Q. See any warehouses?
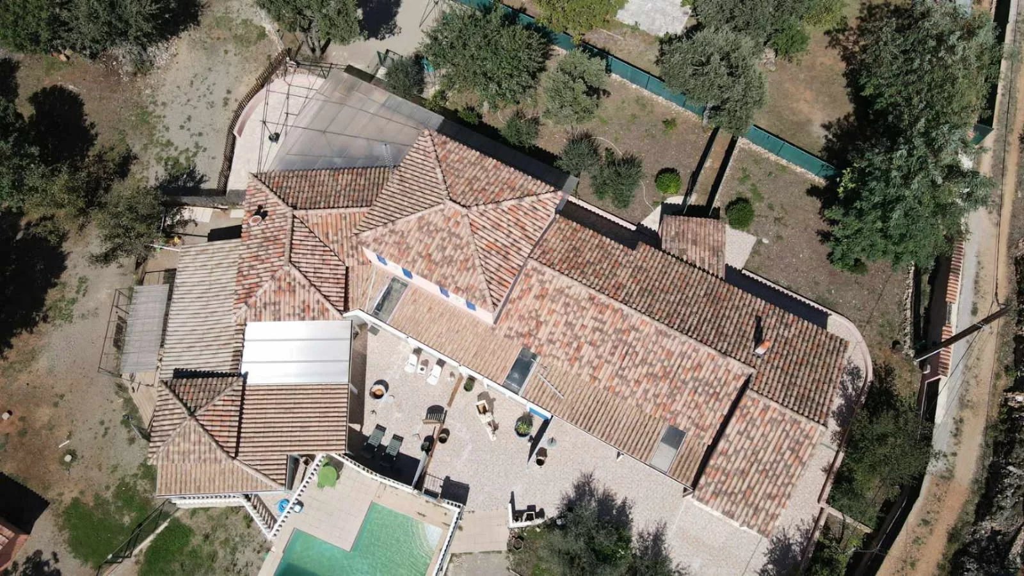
No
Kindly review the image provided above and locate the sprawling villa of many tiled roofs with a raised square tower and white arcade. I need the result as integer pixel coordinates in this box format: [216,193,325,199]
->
[145,126,850,540]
